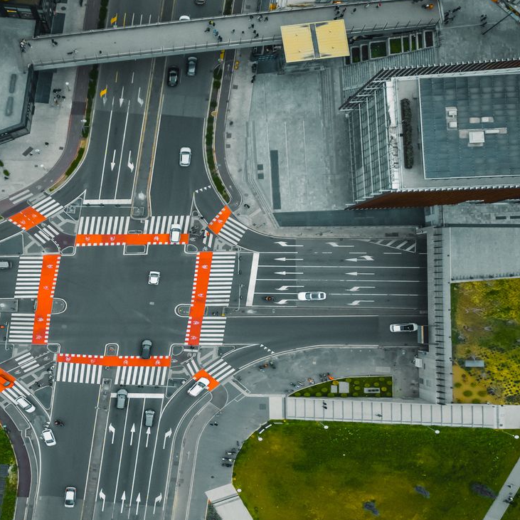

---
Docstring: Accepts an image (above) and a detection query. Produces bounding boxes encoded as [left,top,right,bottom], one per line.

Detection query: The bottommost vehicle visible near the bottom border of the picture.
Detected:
[63,488,77,509]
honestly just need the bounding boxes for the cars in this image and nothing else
[41,428,57,448]
[143,410,156,428]
[299,291,327,302]
[140,340,153,359]
[13,396,36,416]
[186,56,199,76]
[167,64,181,87]
[63,488,77,509]
[148,270,160,287]
[189,377,210,399]
[116,389,129,409]
[391,323,414,333]
[179,146,192,166]
[170,223,182,243]
[0,261,11,269]
[0,373,14,390]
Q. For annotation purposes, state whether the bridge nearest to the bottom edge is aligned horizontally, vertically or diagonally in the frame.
horizontally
